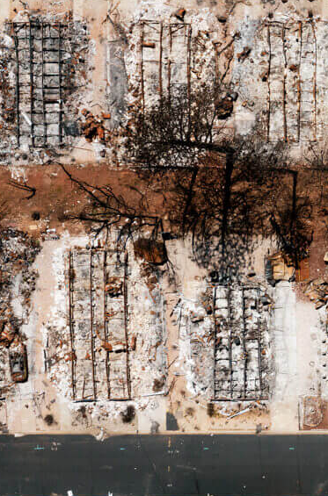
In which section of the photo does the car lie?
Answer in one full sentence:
The car is in the bottom left part of the image.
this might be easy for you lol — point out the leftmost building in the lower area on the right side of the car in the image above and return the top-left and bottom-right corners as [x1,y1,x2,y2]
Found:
[66,247,139,402]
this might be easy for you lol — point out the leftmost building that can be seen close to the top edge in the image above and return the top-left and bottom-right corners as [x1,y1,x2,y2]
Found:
[5,19,71,148]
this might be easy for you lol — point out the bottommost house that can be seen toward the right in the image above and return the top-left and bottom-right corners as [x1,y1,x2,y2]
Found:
[209,283,273,410]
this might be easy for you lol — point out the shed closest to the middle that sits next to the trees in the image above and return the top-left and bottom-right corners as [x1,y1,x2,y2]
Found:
[127,239,165,264]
